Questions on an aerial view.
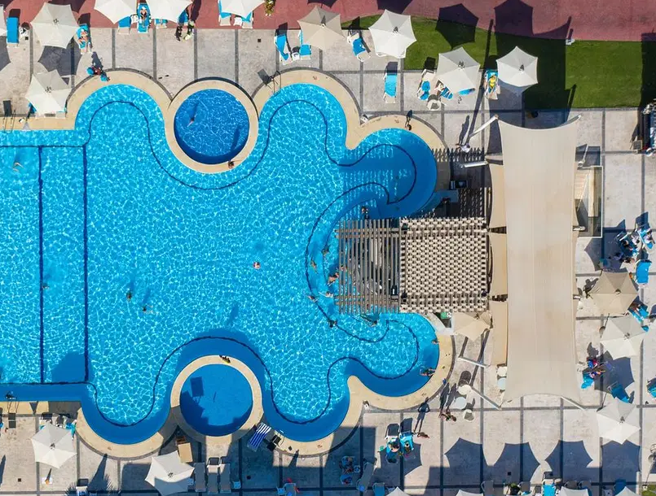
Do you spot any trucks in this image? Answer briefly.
No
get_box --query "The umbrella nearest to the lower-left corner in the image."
[31,423,77,470]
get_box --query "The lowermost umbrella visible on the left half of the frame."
[148,451,195,496]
